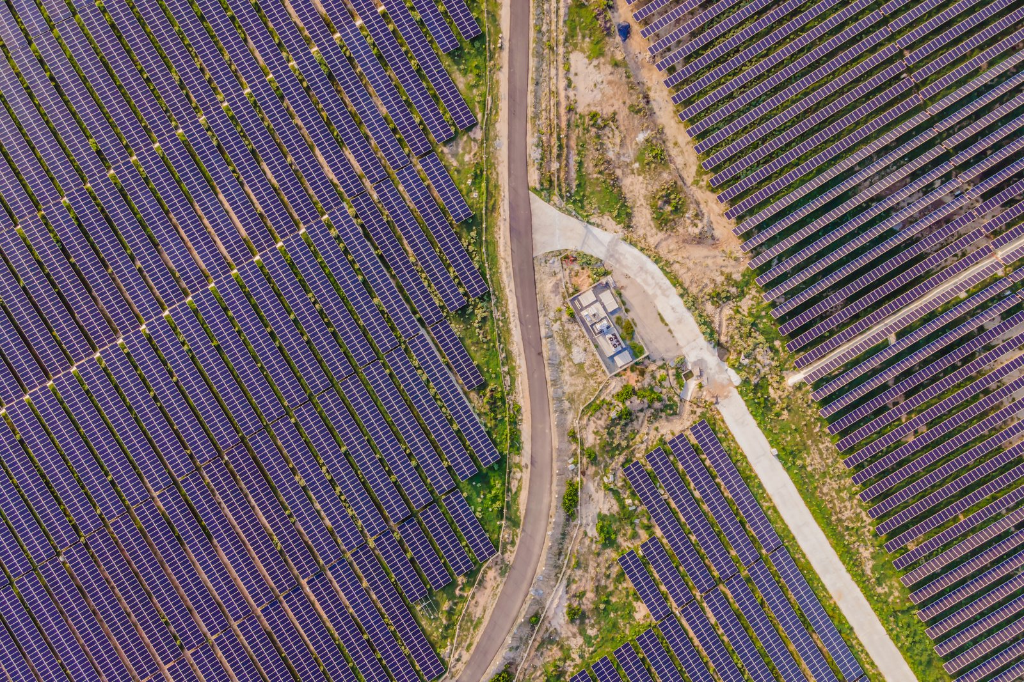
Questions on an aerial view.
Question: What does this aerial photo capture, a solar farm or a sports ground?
solar farm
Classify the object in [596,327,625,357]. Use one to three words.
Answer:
building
